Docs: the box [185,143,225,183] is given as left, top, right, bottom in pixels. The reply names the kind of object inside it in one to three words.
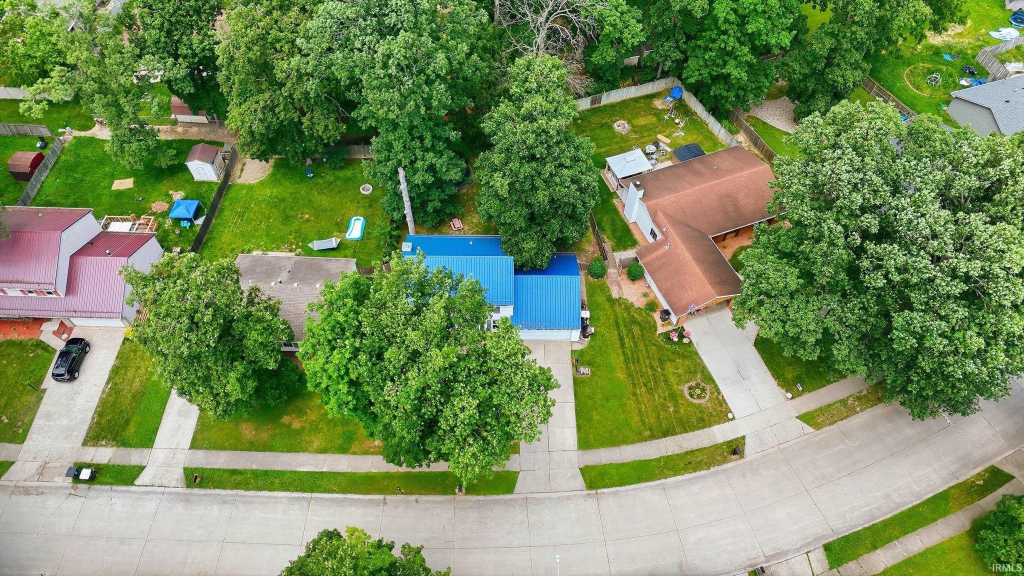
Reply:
shed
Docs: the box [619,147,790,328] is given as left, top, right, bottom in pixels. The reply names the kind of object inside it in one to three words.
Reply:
house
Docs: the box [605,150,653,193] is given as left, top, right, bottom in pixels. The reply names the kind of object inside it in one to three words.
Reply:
gazebo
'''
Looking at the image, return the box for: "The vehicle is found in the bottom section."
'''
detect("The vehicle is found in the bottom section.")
[46,339,88,386]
